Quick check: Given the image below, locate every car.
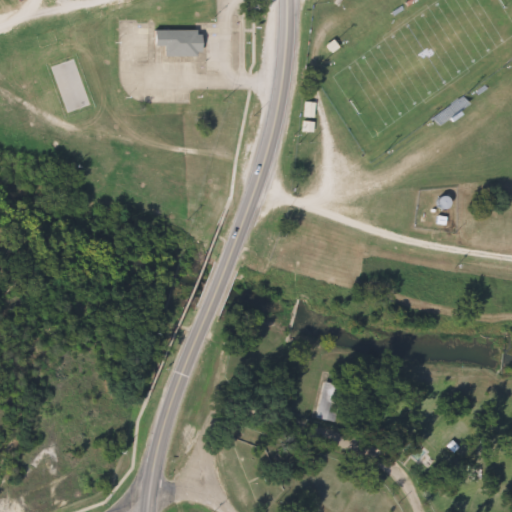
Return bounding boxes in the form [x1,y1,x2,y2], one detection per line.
[232,229,238,238]
[256,164,262,174]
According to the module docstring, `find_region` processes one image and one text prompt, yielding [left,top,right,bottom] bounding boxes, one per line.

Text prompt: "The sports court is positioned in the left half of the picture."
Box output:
[52,60,90,112]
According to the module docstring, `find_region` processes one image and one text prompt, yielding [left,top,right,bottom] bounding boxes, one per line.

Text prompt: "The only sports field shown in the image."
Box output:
[326,0,512,146]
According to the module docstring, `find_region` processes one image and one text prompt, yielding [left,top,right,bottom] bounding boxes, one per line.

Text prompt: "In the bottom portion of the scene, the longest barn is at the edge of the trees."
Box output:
[314,381,338,422]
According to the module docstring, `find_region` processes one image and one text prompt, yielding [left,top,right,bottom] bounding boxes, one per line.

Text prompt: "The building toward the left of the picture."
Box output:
[157,30,205,56]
